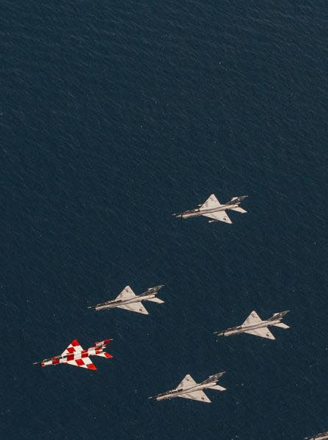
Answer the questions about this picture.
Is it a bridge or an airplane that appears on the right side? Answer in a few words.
airplane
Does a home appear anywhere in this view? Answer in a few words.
No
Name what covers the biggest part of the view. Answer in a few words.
water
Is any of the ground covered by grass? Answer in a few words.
No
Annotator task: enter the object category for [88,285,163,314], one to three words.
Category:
airplane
